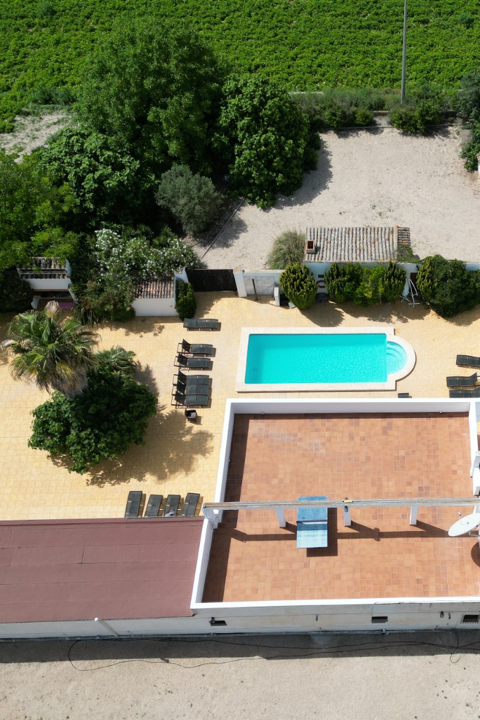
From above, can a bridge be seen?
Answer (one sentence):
No, the photo shows no bridge.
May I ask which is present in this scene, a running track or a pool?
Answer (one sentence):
Of the two, only a pool appears.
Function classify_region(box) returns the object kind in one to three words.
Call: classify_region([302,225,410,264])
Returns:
shed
